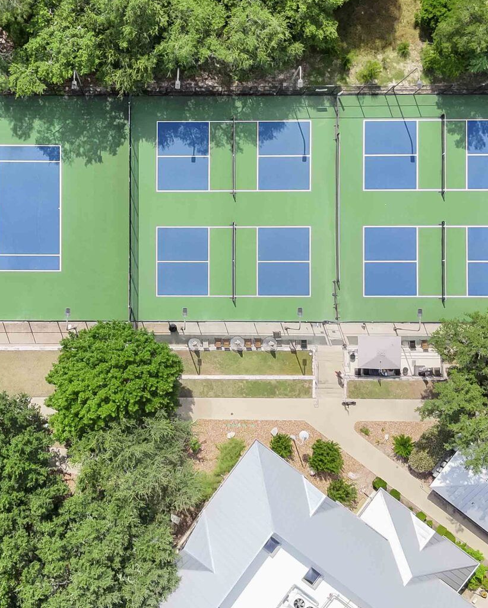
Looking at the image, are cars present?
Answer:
No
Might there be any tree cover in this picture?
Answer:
Yes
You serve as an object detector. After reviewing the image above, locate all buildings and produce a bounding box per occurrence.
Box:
[137,441,484,608]
[428,425,488,529]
